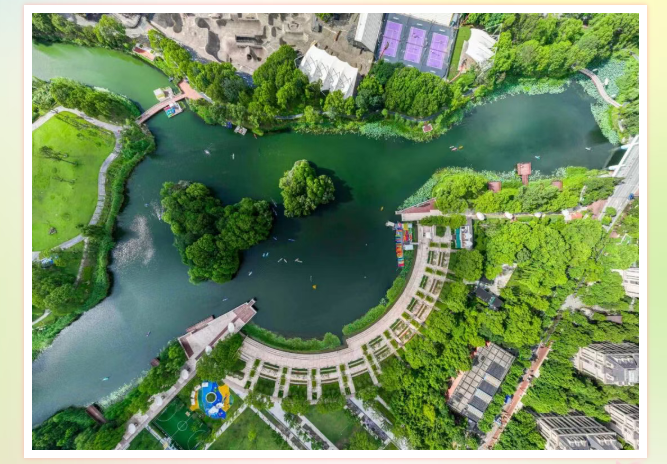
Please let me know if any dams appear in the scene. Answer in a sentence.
No, the scene contains no dam.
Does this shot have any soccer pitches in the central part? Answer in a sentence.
No, no soccer pitch is visible in the central part.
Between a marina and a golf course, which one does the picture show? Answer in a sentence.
The picture captures a marina.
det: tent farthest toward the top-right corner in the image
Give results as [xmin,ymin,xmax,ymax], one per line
[462,27,495,67]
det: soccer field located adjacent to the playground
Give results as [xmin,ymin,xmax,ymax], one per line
[148,395,213,458]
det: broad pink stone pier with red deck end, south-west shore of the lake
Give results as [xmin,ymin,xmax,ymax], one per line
[178,298,257,364]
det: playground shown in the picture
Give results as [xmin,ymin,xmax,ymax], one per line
[190,381,233,420]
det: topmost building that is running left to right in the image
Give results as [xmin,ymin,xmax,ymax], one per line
[388,0,458,28]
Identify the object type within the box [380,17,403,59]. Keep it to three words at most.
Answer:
tennis court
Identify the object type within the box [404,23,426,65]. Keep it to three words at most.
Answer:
tennis court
